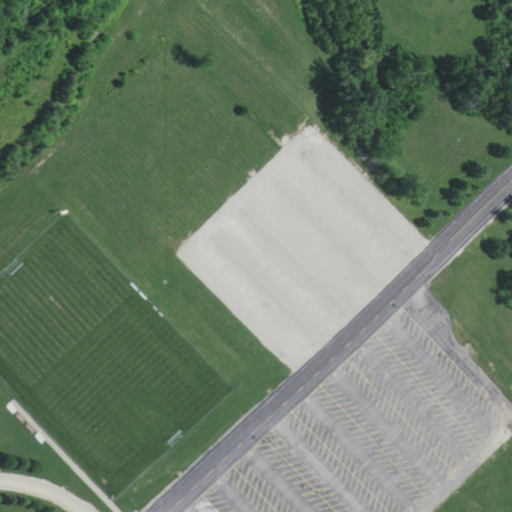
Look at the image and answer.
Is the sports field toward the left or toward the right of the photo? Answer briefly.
left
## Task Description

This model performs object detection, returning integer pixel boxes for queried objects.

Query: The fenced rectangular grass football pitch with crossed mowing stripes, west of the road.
[0,214,232,498]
